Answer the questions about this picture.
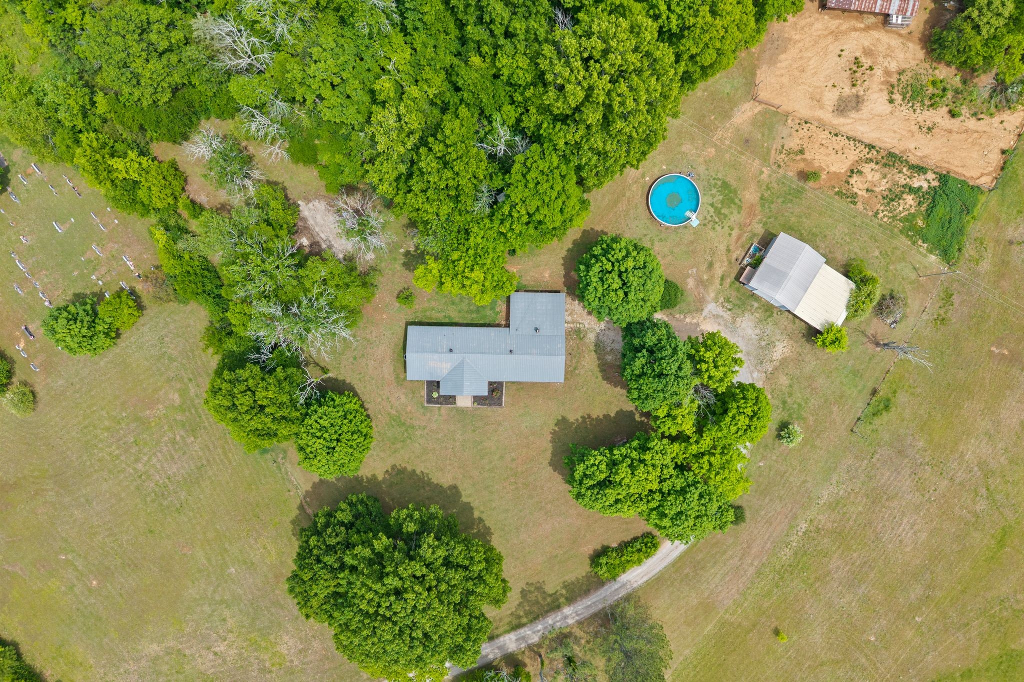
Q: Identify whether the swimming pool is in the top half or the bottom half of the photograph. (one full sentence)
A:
The top half of the photo is where the swimming pool is.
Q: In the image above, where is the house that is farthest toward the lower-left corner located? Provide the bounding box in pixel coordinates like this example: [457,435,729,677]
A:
[406,293,565,396]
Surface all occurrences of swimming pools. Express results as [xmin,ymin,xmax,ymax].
[647,174,700,227]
